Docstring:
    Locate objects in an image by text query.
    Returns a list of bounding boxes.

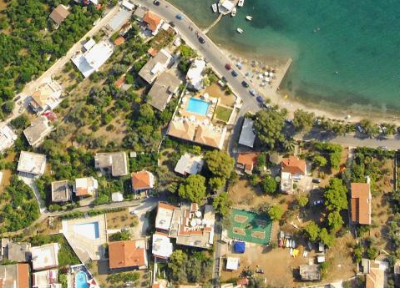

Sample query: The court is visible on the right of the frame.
[229,209,272,245]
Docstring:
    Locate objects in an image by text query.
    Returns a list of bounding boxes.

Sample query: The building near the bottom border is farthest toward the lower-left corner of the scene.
[0,260,30,288]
